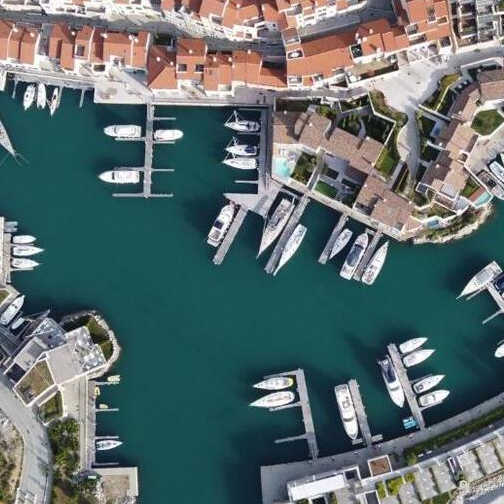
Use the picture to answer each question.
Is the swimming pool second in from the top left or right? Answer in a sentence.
You can find the swimming pool second in from the top on the right side of the picture.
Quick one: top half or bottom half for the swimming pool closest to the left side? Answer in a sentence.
It is in the top half that the swimming pool closest to the left side appears.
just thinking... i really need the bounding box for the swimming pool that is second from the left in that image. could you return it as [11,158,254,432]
[424,215,443,231]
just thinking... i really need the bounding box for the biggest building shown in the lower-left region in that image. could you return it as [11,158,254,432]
[3,319,108,422]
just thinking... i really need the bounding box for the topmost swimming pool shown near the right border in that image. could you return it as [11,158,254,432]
[470,187,494,208]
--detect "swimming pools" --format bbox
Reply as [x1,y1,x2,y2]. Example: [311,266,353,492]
[424,215,443,231]
[470,187,494,208]
[272,143,303,180]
